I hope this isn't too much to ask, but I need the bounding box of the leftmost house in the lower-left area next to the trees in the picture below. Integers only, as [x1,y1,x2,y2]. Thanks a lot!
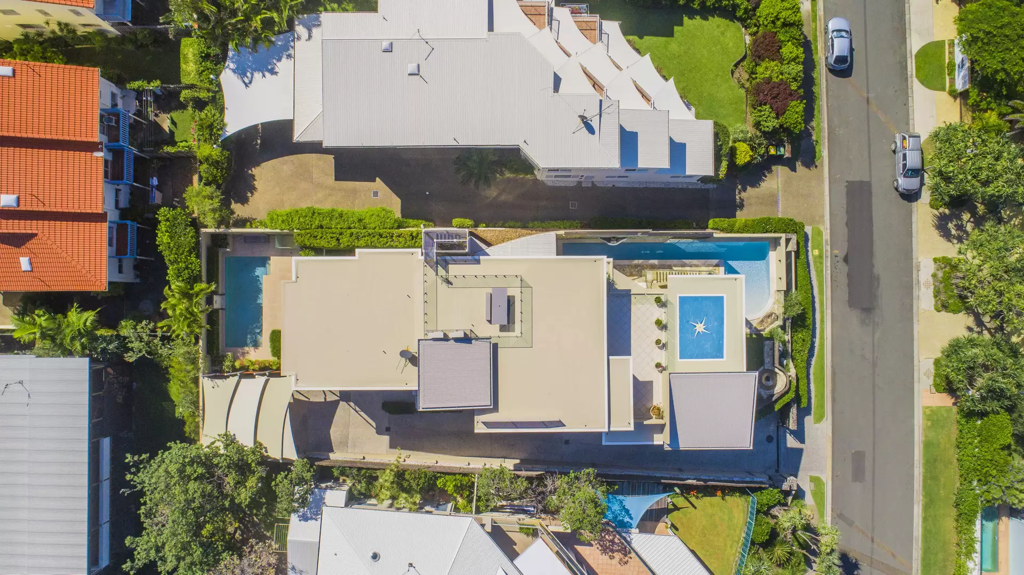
[0,352,126,575]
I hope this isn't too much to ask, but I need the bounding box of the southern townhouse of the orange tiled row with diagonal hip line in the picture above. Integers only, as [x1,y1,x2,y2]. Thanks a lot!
[0,213,153,291]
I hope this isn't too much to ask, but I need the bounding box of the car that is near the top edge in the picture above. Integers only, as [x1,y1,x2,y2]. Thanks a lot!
[827,19,855,73]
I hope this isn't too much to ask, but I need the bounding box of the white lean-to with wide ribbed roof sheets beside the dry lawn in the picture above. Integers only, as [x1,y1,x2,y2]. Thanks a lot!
[621,525,714,575]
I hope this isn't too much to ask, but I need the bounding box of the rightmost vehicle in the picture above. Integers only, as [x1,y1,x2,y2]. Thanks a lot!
[893,129,926,194]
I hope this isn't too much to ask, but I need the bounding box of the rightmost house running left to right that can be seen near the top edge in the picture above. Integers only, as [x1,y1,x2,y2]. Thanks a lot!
[293,0,714,180]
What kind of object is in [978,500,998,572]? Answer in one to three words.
swimming pool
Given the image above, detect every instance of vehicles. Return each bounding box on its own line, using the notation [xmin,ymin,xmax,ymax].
[893,129,926,194]
[827,19,855,73]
